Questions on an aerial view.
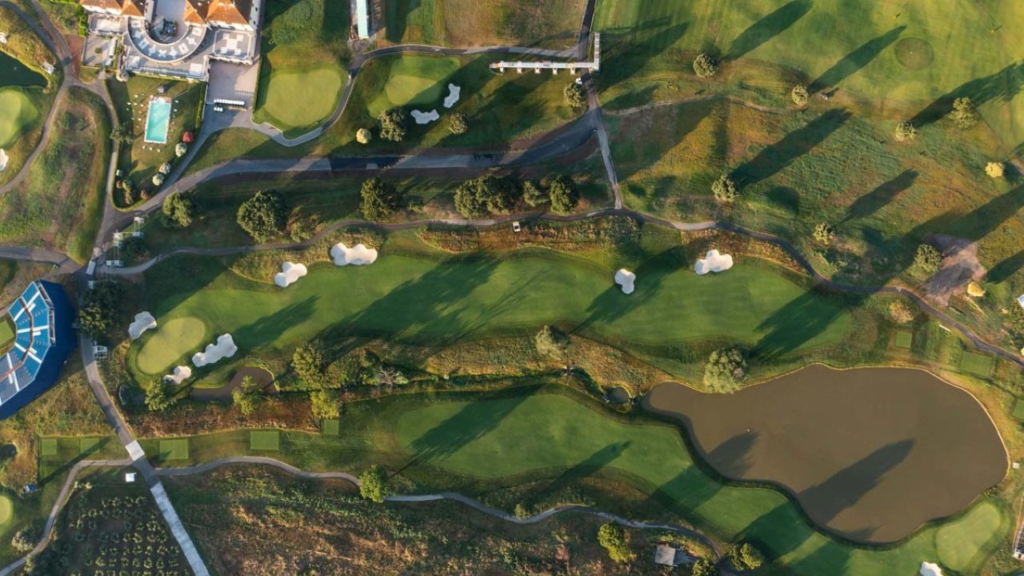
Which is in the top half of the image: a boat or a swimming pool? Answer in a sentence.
The one visible in the top half of the image is a swimming pool.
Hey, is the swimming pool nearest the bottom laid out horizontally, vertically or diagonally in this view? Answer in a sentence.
What the image shows is the swimming pool nearest the bottom lying vertically.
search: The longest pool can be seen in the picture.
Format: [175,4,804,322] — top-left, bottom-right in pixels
[143,93,173,145]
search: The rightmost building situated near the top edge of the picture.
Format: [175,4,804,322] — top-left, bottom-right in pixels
[350,0,386,38]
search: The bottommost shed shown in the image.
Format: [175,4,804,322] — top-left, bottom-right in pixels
[656,545,678,569]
